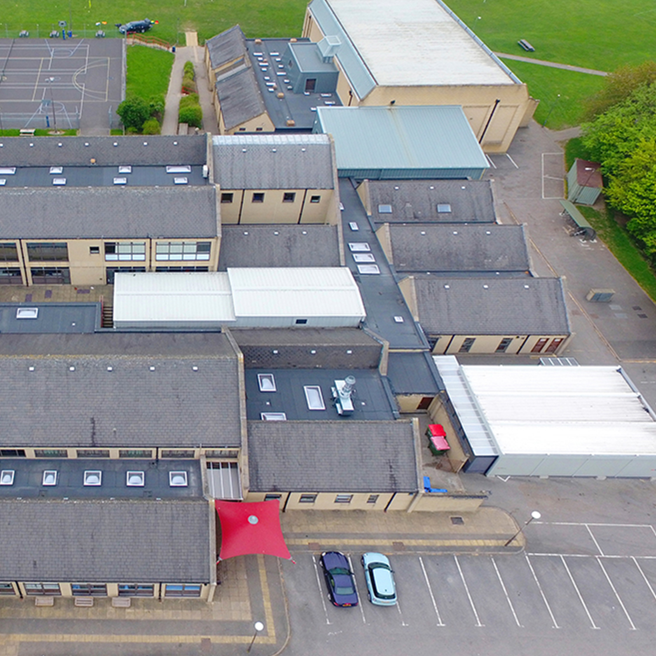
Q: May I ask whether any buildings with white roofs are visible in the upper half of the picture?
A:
Yes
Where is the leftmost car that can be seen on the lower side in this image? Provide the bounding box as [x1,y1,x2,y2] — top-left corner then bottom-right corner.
[321,554,358,609]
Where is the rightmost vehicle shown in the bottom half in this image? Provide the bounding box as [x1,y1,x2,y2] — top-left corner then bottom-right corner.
[361,553,397,608]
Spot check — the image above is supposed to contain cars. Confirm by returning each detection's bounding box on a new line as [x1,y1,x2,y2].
[361,553,397,608]
[321,554,358,609]
[119,14,156,33]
